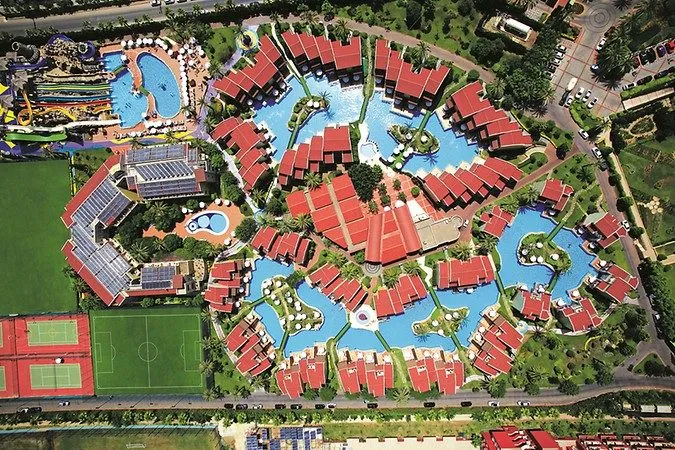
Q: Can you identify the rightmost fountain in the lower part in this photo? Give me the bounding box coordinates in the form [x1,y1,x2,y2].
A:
[355,308,372,325]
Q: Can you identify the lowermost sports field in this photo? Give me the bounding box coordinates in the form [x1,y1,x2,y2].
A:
[0,424,222,450]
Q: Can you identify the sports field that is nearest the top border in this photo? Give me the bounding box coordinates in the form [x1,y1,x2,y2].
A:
[0,160,78,315]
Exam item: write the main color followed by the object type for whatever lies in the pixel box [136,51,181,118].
blue swimming pool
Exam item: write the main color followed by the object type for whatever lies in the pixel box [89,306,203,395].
green soccer field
